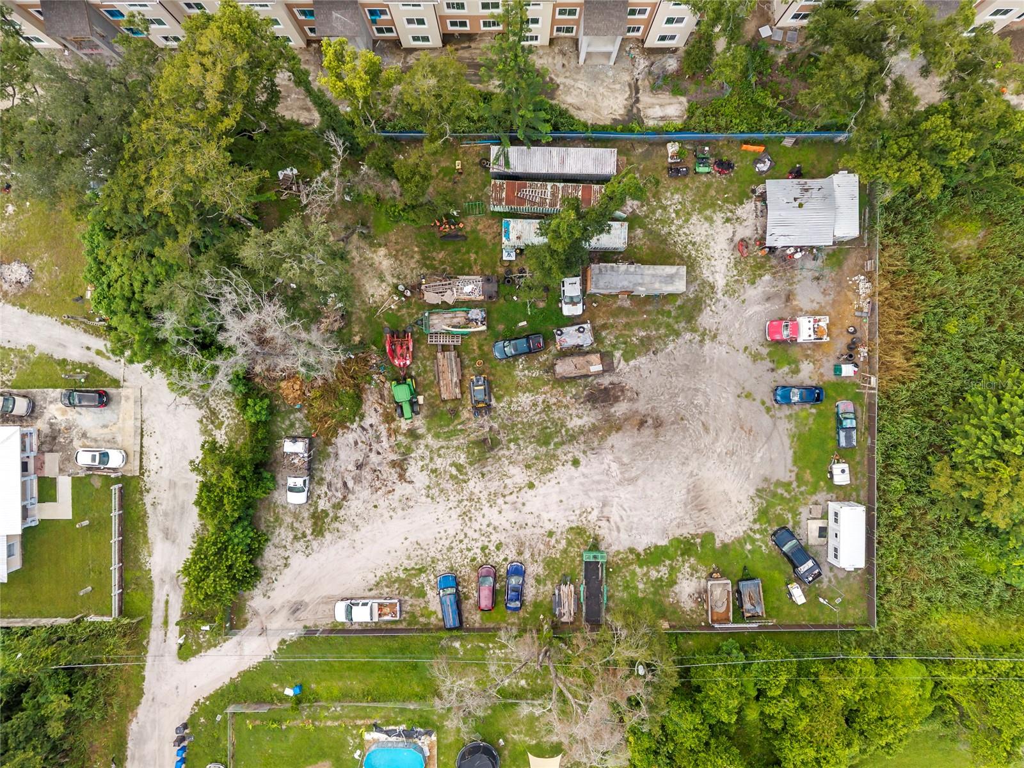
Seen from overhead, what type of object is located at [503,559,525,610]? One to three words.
car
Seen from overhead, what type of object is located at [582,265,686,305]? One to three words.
trailer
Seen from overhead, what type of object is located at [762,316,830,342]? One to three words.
truck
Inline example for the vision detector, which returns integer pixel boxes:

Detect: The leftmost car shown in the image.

[0,393,38,416]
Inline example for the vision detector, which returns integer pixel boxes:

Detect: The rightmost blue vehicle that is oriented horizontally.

[771,383,824,406]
